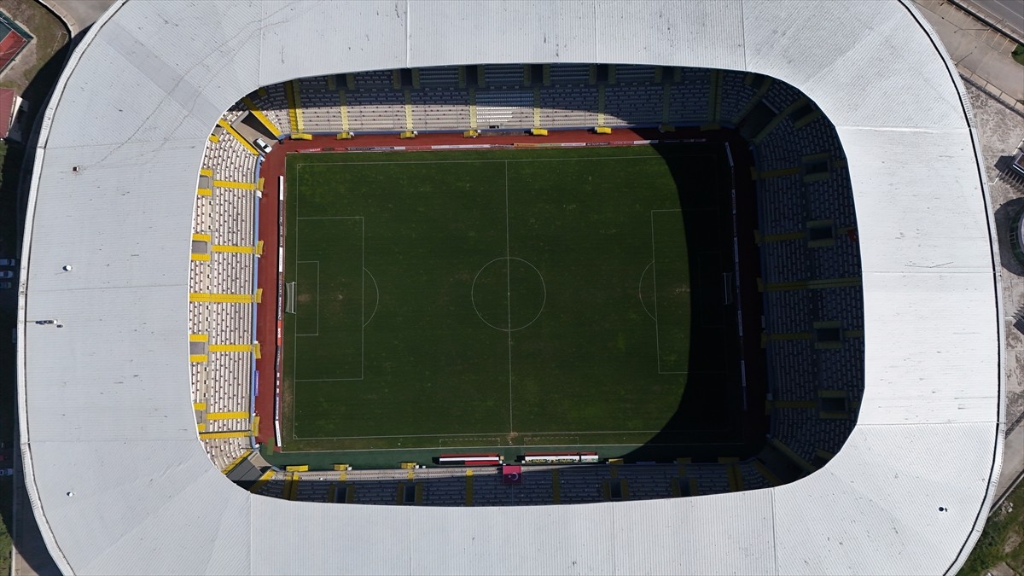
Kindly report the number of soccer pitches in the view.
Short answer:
1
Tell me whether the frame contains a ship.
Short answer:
No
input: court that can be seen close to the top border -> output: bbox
[0,10,38,81]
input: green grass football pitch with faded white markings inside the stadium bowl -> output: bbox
[279,143,745,453]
